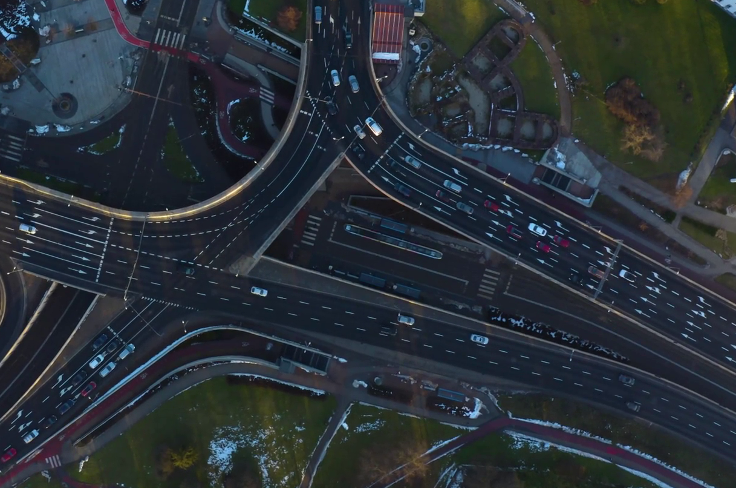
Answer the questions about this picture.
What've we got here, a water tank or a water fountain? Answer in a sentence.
It is a water fountain that can be seen here.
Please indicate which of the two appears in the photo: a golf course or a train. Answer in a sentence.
Visible in the photo is a train.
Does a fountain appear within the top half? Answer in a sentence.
Yes, a fountain is visible within the top half.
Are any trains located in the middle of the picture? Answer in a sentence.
Yes, a train is visible in the middle of the picture.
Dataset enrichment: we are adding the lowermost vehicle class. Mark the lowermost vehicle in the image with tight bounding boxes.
[0,448,17,463]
